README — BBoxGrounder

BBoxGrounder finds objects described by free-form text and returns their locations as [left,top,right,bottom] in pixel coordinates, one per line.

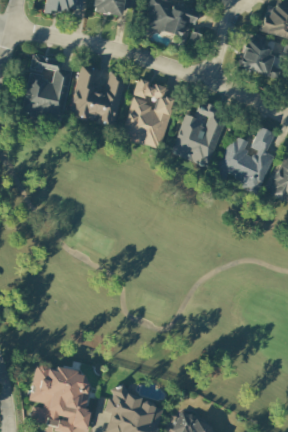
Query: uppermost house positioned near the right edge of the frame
[260,4,288,40]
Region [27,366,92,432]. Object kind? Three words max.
house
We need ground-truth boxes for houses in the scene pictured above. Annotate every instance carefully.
[260,4,288,40]
[126,79,176,148]
[175,104,224,164]
[170,411,219,432]
[150,0,203,36]
[102,385,161,432]
[42,0,78,12]
[273,151,288,197]
[226,128,275,190]
[72,66,128,124]
[94,0,126,17]
[27,366,92,432]
[29,54,66,110]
